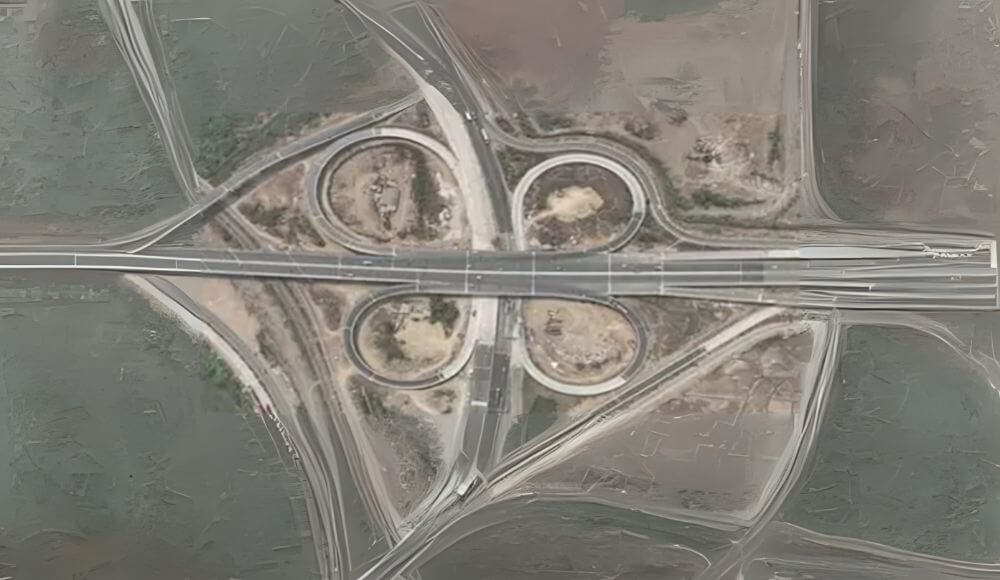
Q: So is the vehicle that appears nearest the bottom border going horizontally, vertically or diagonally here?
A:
diagonally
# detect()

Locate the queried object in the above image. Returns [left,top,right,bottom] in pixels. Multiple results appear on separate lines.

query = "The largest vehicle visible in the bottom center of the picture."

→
[457,476,479,496]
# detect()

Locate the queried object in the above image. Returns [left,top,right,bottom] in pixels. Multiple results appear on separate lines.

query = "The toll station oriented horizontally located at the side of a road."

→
[800,240,998,308]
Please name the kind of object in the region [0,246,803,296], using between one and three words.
overpass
